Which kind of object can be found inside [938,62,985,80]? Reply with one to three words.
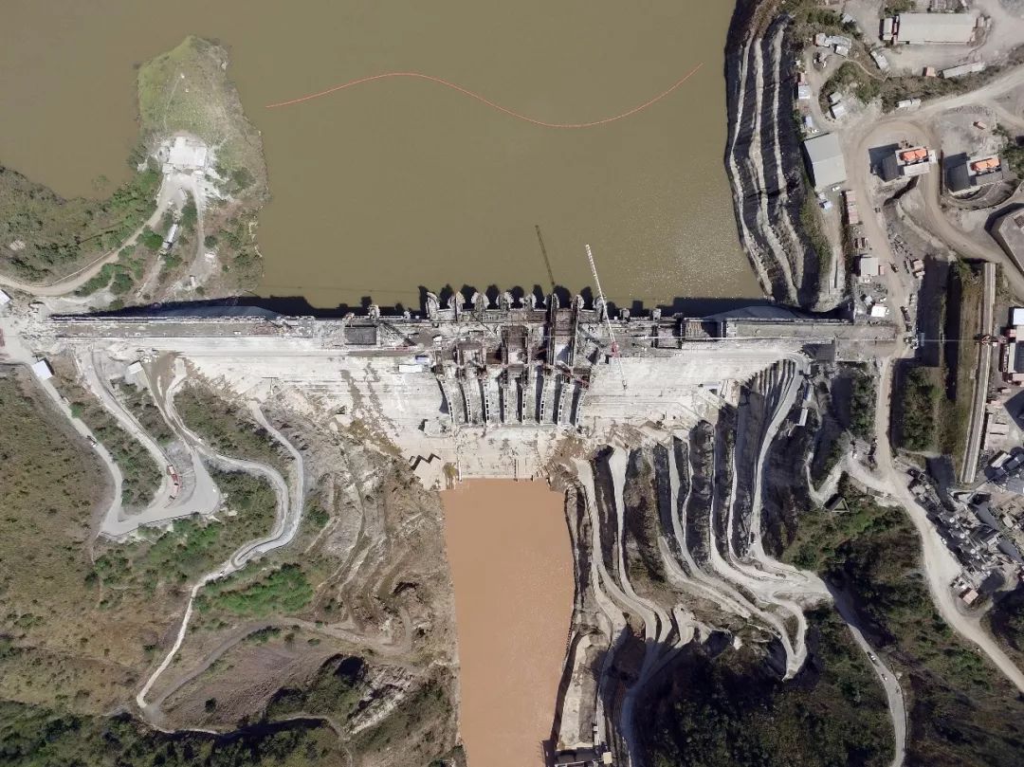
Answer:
shed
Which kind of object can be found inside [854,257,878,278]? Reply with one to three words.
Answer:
building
